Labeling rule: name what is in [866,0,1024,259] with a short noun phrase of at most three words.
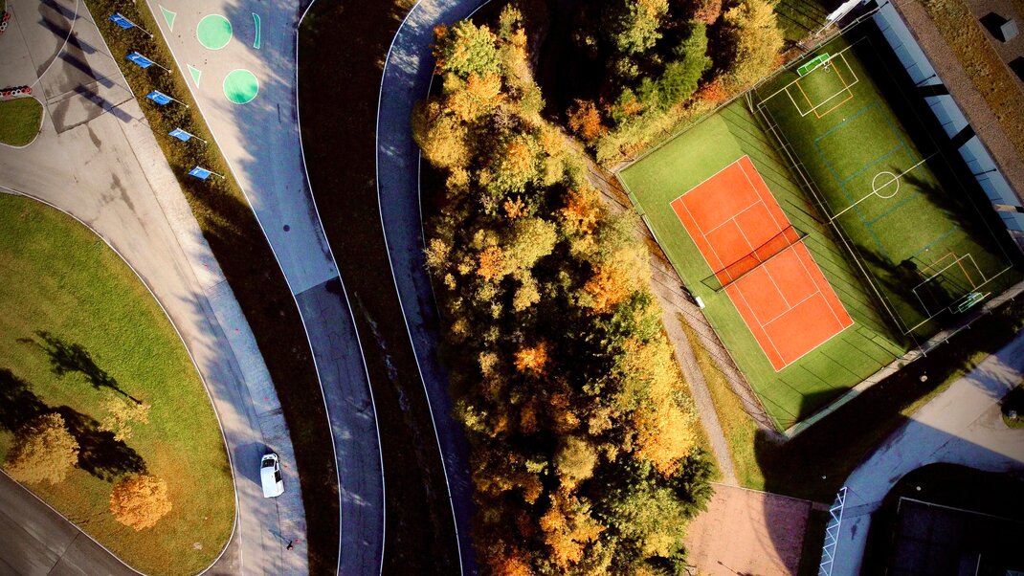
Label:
building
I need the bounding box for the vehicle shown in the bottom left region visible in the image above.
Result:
[262,452,286,498]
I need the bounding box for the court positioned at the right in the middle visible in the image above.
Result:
[619,98,910,433]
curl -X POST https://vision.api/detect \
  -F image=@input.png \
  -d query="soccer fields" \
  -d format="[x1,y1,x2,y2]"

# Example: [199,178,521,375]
[752,20,1024,341]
